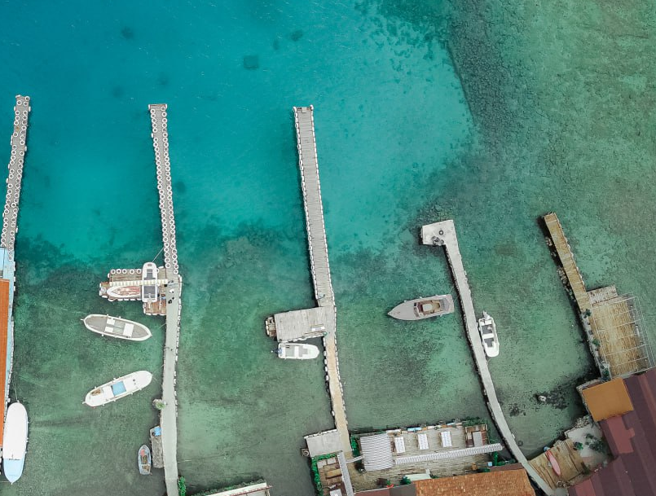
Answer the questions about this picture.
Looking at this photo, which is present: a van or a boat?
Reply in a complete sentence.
The one in the frame is a boat.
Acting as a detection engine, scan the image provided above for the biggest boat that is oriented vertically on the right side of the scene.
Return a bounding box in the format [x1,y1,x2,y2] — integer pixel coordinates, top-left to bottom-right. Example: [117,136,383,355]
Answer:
[478,314,500,357]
